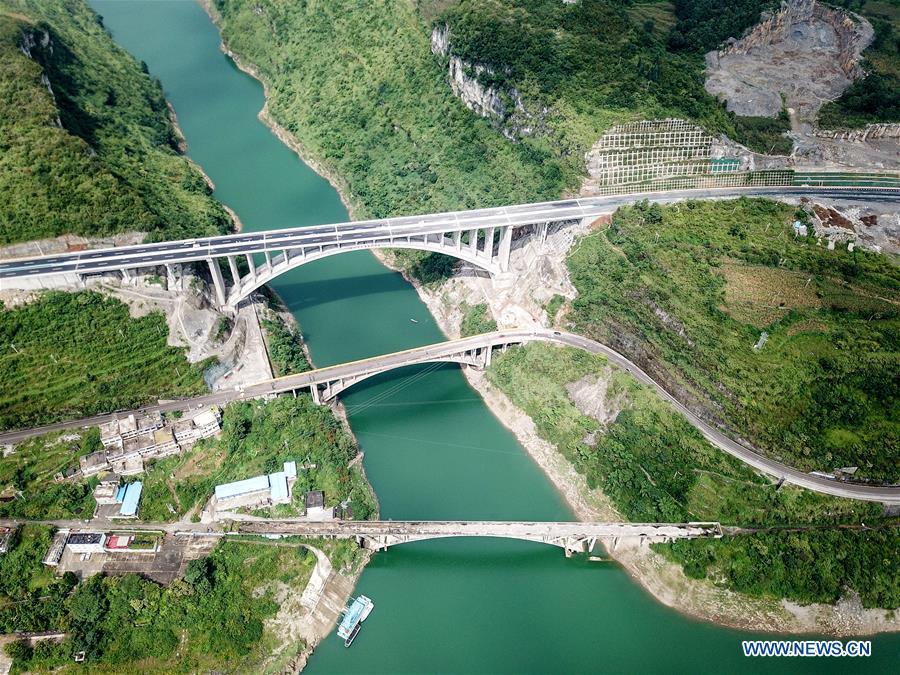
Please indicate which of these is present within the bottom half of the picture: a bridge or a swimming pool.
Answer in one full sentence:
Visible within the bottom half of the picture is a bridge.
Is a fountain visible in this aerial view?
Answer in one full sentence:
No, I find no fountain anywhere in the image.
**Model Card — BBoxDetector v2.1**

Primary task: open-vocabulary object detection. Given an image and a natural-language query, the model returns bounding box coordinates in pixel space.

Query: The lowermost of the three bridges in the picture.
[238,521,722,556]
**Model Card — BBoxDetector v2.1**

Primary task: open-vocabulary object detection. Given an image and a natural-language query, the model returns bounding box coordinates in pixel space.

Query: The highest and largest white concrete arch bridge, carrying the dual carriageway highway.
[87,198,590,310]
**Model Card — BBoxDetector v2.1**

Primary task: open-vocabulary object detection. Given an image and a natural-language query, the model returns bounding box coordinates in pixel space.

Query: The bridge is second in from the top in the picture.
[242,327,550,403]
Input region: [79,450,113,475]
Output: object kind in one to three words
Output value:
house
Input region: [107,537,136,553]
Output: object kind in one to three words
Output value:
shed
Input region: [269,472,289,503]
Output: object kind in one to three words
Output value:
shed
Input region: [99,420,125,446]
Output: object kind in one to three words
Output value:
house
